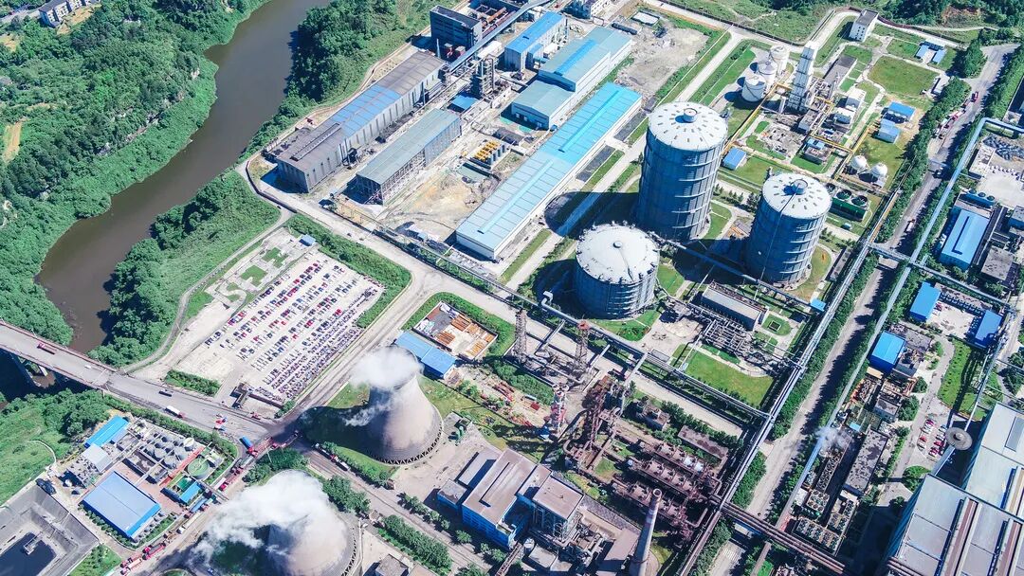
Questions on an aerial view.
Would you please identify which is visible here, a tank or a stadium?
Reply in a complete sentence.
The image shows a tank.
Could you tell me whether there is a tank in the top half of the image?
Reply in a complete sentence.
Yes, a tank appears in the top half of the image.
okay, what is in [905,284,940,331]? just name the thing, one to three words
building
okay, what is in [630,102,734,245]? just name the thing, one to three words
storage tank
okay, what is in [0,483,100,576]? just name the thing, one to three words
pond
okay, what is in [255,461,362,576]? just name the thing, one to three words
cooling tower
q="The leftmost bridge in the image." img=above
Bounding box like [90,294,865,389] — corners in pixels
[0,322,117,386]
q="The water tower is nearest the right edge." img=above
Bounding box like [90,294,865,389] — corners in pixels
[932,424,979,480]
